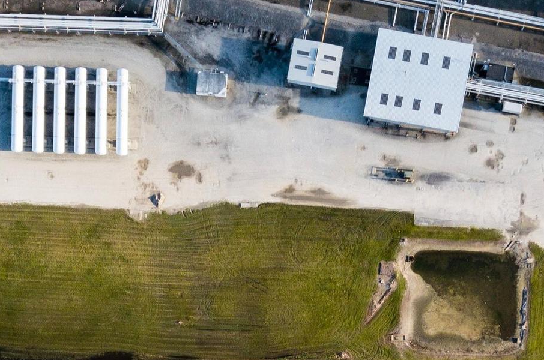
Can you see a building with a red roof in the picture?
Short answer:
No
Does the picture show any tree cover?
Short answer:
No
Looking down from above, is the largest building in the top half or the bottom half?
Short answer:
top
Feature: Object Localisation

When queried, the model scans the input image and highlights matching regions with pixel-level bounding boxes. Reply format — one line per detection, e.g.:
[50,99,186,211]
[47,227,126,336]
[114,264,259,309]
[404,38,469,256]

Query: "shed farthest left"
[196,68,228,98]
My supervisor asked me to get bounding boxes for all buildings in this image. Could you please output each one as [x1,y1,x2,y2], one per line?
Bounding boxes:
[363,28,474,133]
[196,68,228,98]
[288,38,344,91]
